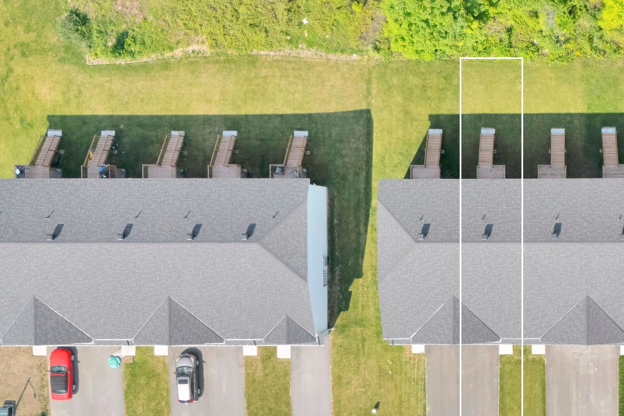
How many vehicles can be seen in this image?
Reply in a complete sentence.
Altogether the scene contains 2 vehicles.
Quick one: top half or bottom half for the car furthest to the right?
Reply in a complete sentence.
The bottom half of the photo is where the car furthest to the right is.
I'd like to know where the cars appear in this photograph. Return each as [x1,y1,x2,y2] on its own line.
[47,348,75,402]
[173,353,200,404]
